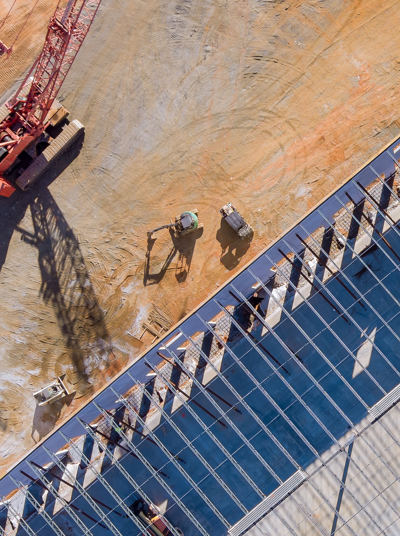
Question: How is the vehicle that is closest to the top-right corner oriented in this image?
diagonally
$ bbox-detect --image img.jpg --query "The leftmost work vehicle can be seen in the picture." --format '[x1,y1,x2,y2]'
[28,376,79,407]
